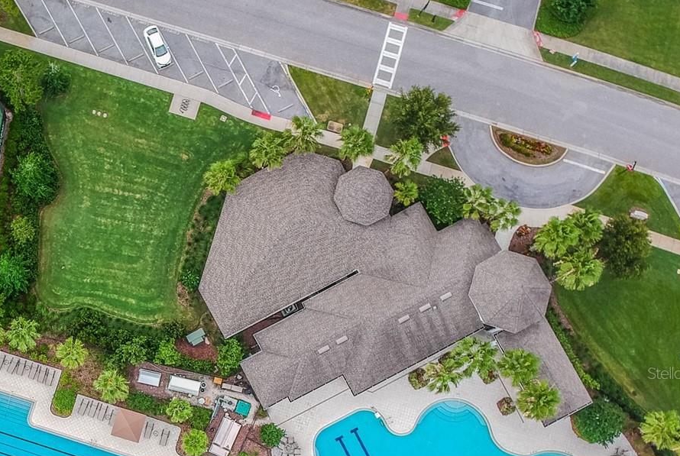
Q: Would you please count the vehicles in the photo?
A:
1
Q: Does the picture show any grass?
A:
Yes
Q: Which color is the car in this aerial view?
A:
white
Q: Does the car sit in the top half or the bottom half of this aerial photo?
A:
top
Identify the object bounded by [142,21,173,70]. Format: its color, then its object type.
white car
